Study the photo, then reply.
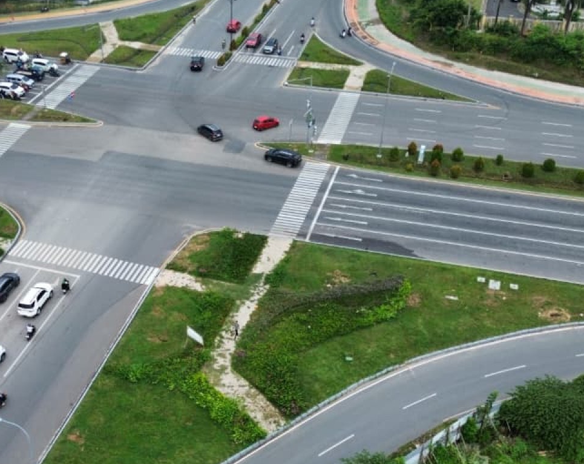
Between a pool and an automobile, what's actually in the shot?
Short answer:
automobile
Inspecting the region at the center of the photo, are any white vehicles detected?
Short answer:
No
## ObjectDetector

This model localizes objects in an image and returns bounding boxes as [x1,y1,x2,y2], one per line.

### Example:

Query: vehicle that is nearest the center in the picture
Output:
[264,149,303,169]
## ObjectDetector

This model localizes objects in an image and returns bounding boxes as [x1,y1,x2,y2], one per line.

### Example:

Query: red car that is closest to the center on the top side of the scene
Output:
[251,117,280,133]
